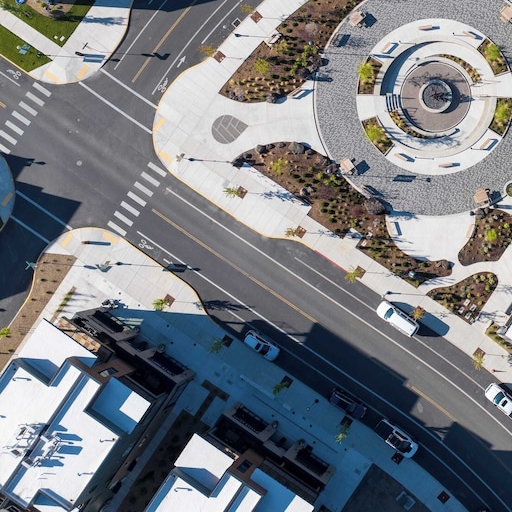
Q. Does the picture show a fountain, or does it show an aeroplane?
fountain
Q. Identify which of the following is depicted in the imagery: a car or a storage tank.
car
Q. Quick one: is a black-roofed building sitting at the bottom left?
No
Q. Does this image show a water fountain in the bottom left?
No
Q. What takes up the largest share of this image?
paved ground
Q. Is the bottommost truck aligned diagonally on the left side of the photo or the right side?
right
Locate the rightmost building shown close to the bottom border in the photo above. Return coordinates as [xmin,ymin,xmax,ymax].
[141,401,335,512]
